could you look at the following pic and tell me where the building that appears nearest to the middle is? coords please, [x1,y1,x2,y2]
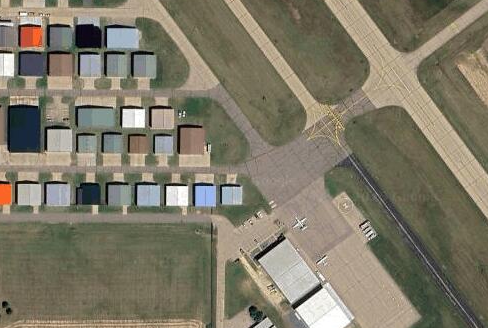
[222,186,242,204]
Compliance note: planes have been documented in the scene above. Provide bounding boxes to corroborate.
[292,217,306,230]
[316,256,327,266]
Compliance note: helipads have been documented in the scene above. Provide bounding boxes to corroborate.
[334,192,373,242]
